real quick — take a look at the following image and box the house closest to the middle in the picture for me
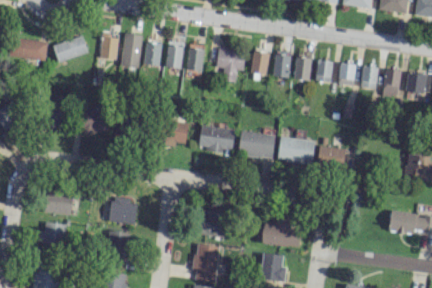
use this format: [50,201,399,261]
[200,124,236,158]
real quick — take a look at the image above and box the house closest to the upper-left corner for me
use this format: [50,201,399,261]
[9,40,48,63]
